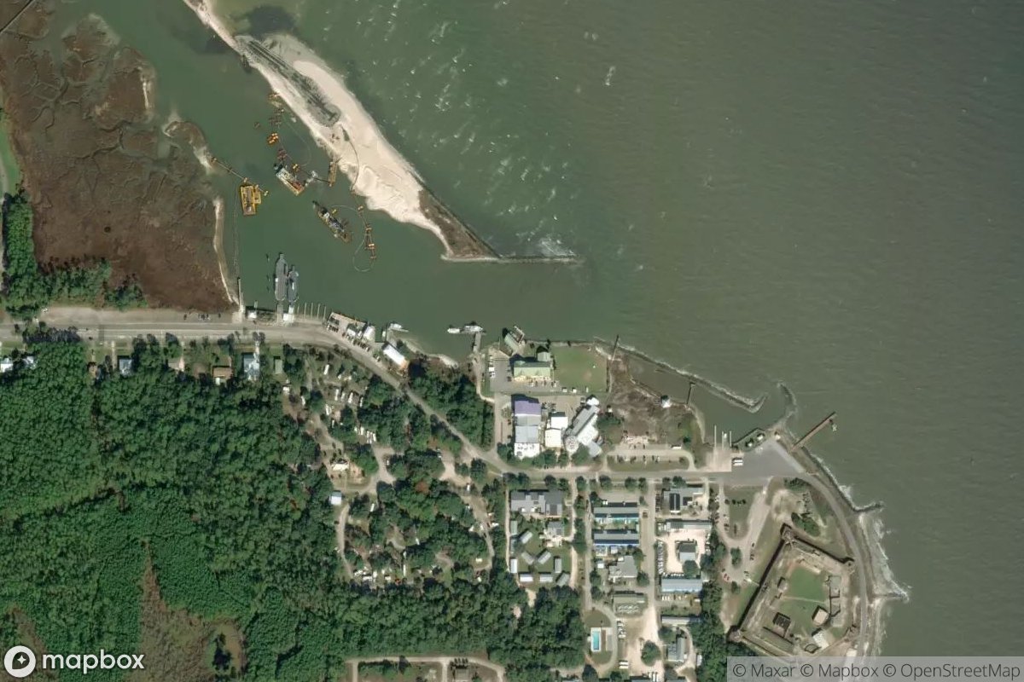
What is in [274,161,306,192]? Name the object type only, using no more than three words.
ship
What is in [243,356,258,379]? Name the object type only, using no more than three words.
house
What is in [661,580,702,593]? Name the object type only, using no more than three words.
shed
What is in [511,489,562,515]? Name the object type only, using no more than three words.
building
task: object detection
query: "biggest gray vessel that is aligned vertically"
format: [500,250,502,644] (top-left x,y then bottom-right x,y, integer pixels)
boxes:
[274,255,286,300]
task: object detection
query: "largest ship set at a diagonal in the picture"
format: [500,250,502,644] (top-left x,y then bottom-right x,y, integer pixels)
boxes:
[211,157,269,215]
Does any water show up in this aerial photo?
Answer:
Yes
